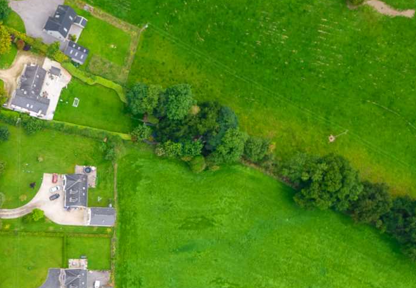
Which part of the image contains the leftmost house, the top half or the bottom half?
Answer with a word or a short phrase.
top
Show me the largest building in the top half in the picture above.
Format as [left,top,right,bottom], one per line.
[9,65,50,119]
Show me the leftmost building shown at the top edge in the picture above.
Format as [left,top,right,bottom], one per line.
[43,4,77,42]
